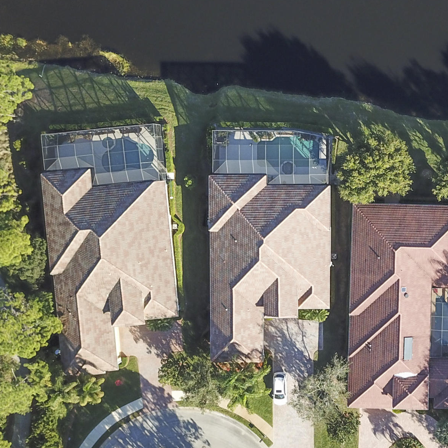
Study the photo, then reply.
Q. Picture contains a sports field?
No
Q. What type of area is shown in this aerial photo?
residential area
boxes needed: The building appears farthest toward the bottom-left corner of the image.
[38,169,181,377]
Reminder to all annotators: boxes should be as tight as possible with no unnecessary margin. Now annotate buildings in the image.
[207,175,332,364]
[347,203,448,411]
[38,169,181,377]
